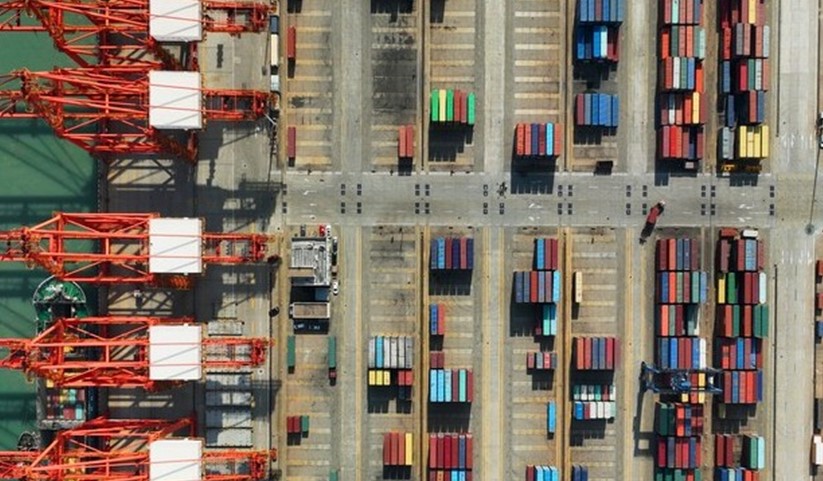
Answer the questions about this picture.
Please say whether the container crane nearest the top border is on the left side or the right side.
left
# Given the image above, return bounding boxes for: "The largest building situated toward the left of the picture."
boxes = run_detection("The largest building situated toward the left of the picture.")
[289,238,330,286]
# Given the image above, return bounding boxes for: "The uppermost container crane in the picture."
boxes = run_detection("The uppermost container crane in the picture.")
[0,0,275,76]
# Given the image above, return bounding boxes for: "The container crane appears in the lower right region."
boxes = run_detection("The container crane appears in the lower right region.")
[644,358,728,395]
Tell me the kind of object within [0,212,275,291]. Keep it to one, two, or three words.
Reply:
container crane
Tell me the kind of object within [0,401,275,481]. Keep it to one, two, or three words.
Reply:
container crane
